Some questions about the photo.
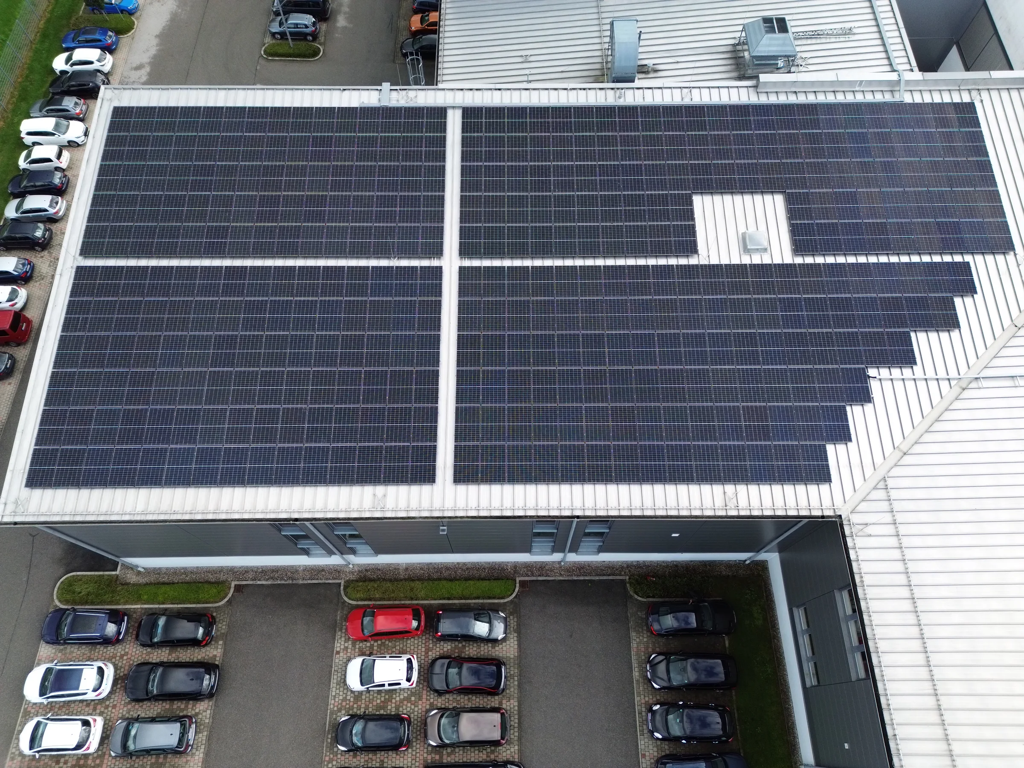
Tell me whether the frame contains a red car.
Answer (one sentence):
Yes, the frame does contain a red car.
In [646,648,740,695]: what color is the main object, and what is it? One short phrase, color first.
black car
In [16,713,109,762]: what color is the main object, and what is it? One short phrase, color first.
white car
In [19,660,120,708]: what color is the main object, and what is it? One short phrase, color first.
white car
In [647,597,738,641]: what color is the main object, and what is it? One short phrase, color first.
black car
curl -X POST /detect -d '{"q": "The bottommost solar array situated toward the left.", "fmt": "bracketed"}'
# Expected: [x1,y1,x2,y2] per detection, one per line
[26,264,443,487]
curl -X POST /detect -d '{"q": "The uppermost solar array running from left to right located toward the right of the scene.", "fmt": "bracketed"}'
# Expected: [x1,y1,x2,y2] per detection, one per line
[457,104,1015,255]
